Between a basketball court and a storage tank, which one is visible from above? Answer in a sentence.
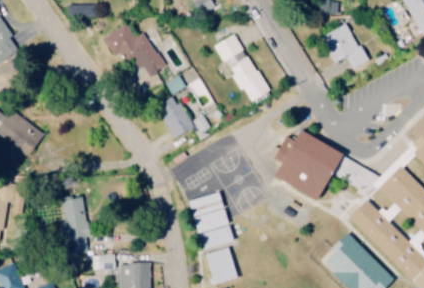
Looking from above, you can make out a basketball court.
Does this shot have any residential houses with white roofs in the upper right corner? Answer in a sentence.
Yes, a residential house with a white roof is visible in the upper right corner.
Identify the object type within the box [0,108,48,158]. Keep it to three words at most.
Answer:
house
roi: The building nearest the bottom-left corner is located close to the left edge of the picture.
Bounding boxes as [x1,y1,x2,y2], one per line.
[0,261,26,288]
